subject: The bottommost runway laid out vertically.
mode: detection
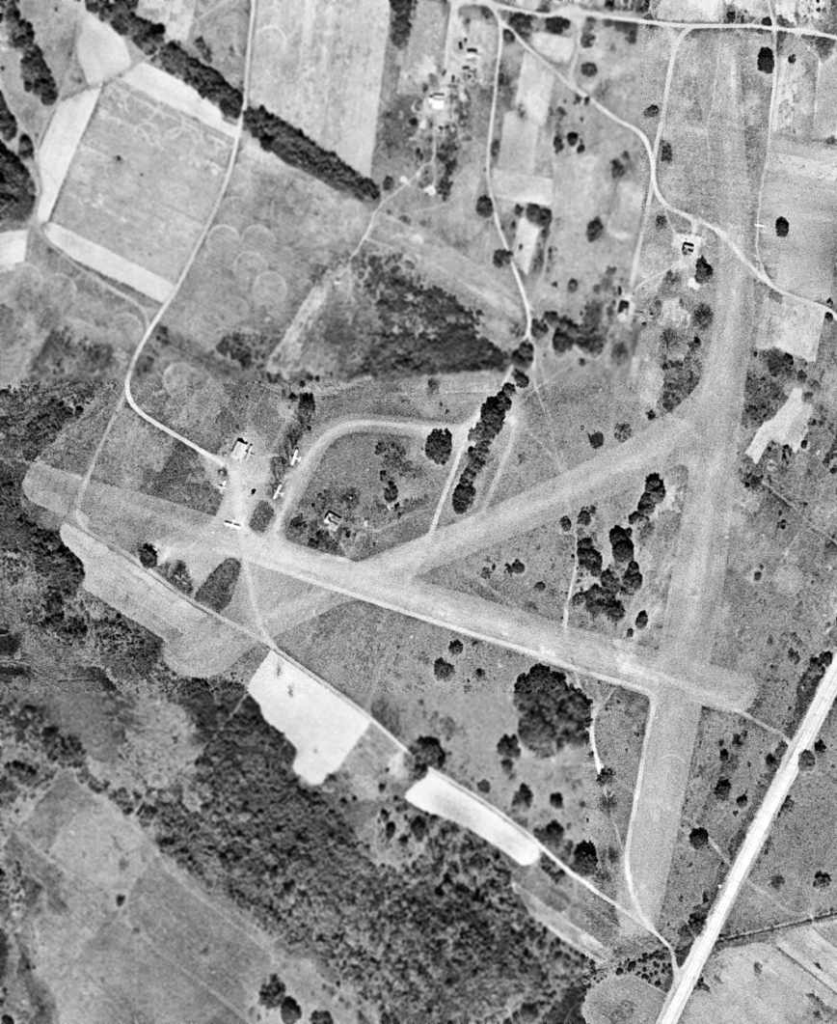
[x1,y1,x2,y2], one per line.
[630,239,756,925]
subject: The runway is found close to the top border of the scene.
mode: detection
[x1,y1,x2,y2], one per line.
[710,30,759,268]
